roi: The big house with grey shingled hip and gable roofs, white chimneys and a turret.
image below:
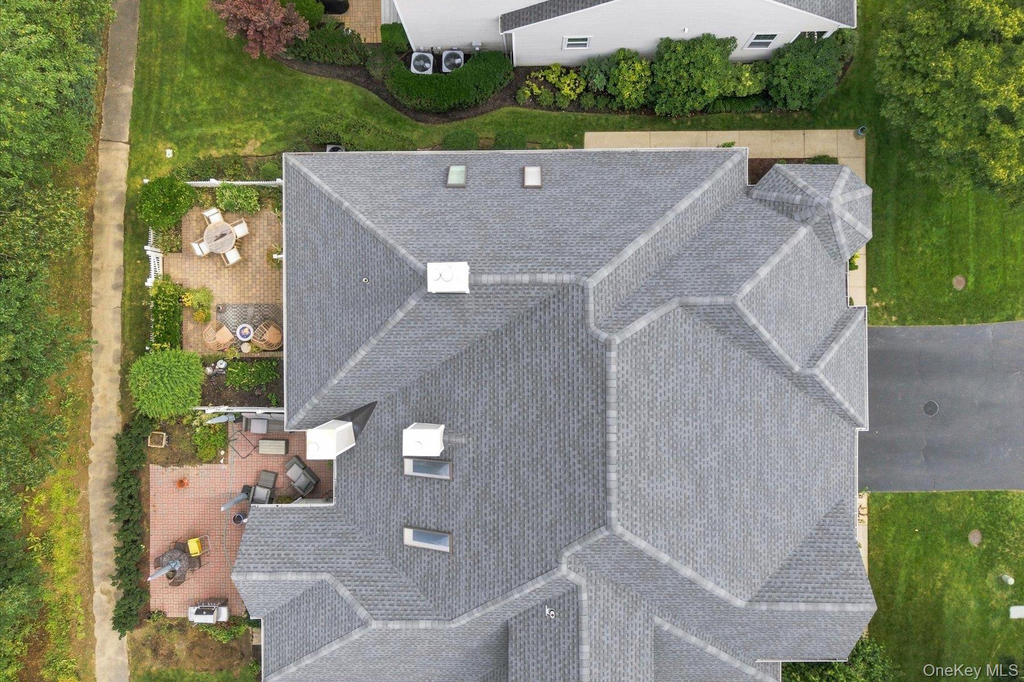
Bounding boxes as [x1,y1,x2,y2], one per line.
[231,145,879,682]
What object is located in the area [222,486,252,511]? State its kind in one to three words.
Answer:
umbrella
